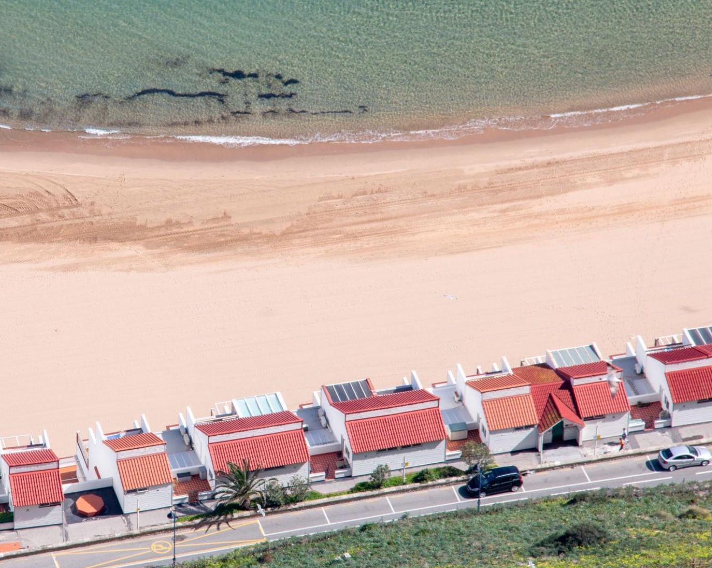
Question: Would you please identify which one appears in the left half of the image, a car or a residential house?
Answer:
residential house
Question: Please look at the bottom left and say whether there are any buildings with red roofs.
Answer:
Yes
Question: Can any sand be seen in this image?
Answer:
Yes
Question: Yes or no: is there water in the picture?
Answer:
Yes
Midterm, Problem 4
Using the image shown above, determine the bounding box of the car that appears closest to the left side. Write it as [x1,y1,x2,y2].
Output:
[471,464,523,497]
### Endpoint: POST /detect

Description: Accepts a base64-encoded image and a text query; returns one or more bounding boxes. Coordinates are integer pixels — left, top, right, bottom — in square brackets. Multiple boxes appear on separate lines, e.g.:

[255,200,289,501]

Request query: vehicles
[471,464,523,497]
[659,445,712,471]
